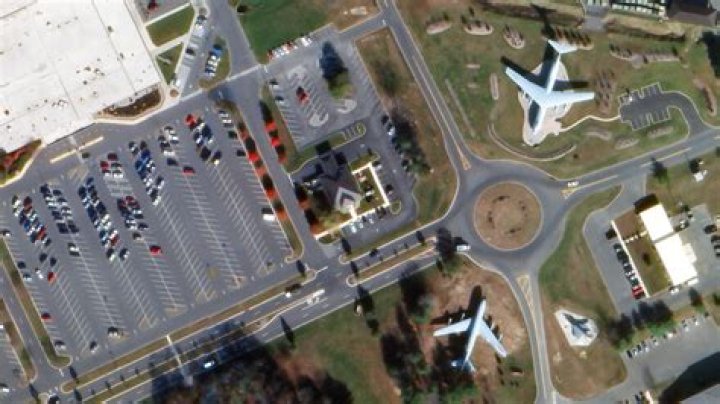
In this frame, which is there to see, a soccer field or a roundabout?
roundabout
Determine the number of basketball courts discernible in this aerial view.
0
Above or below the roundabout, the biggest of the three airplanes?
above it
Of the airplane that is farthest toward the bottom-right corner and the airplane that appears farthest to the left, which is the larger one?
the airplane that appears farthest to the left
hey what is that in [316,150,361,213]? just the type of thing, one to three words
house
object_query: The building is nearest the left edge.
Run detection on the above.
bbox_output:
[0,0,160,155]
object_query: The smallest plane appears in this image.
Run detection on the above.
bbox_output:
[563,314,594,339]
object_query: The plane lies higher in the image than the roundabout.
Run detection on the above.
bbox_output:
[507,37,598,138]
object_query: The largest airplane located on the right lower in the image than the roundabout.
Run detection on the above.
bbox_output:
[434,300,508,374]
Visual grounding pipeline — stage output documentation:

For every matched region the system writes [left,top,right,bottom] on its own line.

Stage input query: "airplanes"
[563,314,594,339]
[507,37,598,138]
[434,300,508,374]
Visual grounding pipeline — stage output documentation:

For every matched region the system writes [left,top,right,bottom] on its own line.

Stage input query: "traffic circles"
[453,162,562,271]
